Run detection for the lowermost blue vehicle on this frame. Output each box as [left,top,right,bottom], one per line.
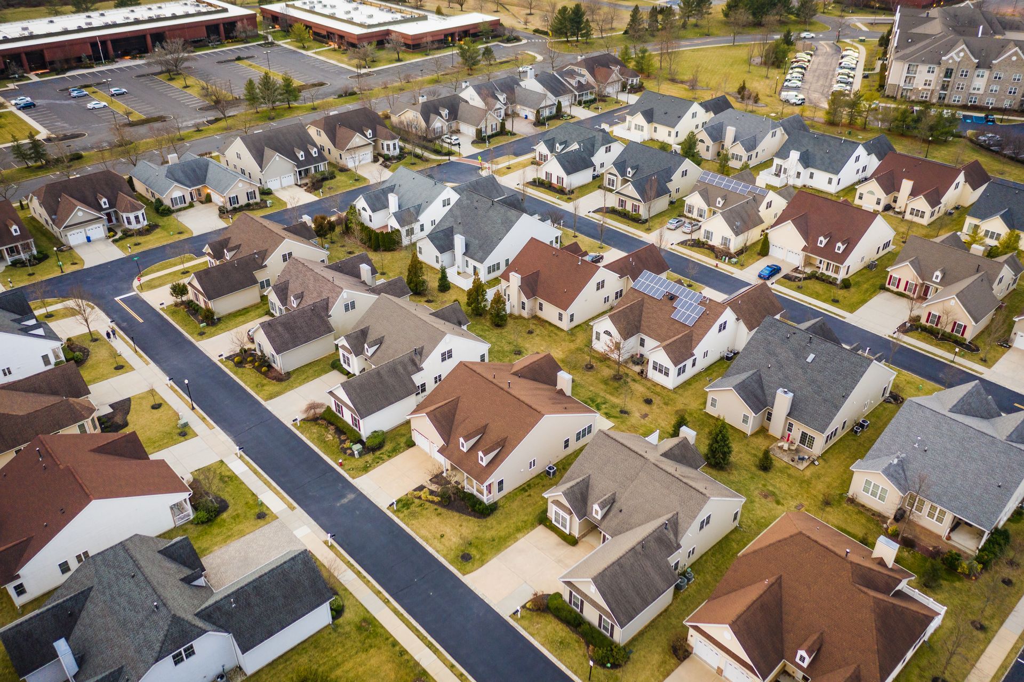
[757,261,782,277]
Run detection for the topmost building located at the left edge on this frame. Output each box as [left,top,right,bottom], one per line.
[0,0,256,77]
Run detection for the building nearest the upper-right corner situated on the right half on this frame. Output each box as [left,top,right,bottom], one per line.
[883,0,1024,107]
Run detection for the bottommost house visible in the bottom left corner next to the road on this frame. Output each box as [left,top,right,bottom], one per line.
[0,530,336,682]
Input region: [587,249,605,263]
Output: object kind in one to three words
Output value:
car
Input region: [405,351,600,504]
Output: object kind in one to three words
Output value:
house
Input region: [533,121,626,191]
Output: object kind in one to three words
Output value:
house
